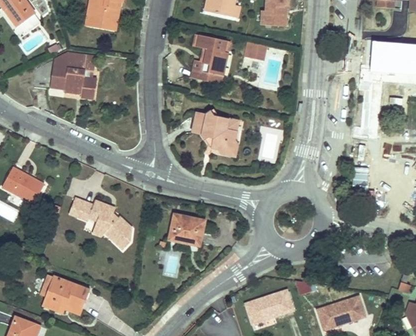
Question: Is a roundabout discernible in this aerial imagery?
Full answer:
Yes, you can see a roundabout in this photo.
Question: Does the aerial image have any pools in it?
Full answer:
Yes, looking at the shot, I can spot a pool.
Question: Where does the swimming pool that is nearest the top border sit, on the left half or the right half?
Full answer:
The swimming pool that is nearest the top border sits on the left side.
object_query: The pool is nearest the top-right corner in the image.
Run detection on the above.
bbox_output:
[263,58,282,86]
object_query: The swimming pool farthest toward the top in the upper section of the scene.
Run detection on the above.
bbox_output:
[21,32,46,53]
